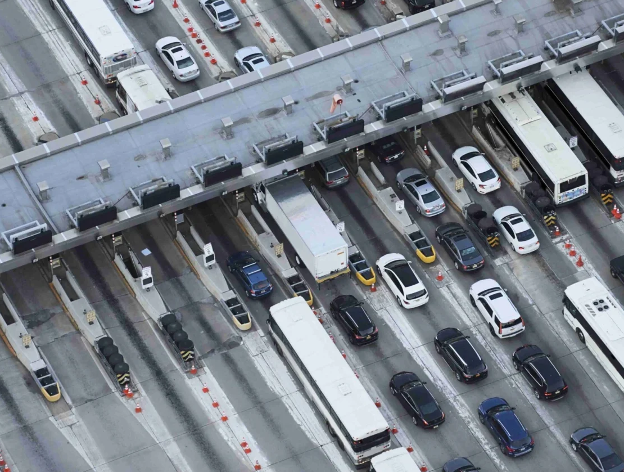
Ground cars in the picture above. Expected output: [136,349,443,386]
[453,149,501,195]
[610,256,624,284]
[404,0,438,17]
[124,0,154,15]
[331,297,378,346]
[200,0,240,34]
[229,254,273,300]
[391,374,445,430]
[377,254,429,308]
[236,44,274,74]
[437,225,484,271]
[479,400,534,458]
[398,170,445,218]
[513,346,568,402]
[493,208,540,253]
[450,462,482,472]
[470,281,526,339]
[435,328,488,385]
[309,153,351,189]
[333,0,365,11]
[156,38,199,81]
[368,133,403,163]
[572,428,624,472]
[365,26,384,35]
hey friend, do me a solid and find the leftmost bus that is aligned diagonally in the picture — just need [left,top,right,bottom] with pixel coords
[50,0,136,87]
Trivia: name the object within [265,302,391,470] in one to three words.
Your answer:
bus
